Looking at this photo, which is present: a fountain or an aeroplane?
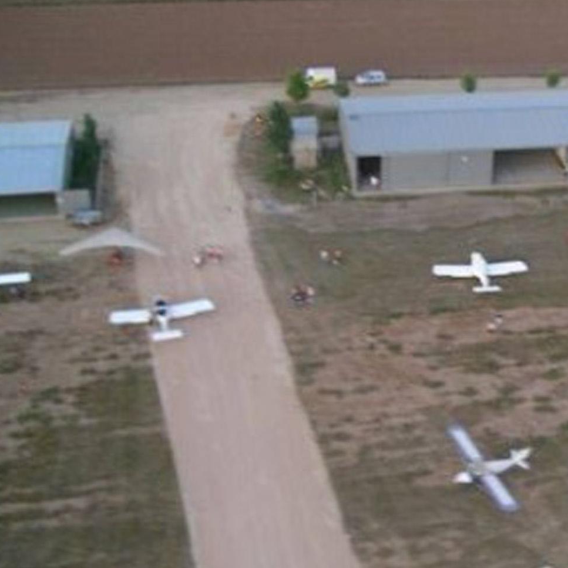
aeroplane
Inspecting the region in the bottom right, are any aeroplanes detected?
Yes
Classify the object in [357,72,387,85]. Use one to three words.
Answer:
vehicle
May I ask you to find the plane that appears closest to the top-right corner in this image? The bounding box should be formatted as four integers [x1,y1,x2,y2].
[432,253,528,291]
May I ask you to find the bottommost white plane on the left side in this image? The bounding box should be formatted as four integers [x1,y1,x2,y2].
[107,294,216,337]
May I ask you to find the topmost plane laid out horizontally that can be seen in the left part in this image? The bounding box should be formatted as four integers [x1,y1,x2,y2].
[58,230,162,270]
